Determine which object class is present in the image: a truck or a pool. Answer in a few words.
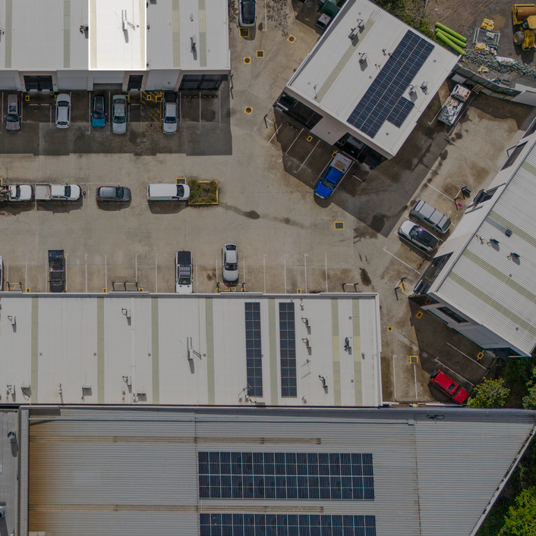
truck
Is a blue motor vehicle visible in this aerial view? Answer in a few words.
Yes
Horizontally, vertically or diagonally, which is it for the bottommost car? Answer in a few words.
diagonally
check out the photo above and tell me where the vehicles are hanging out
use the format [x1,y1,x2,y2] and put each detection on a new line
[160,91,180,135]
[89,94,108,130]
[436,82,472,128]
[36,183,82,202]
[47,248,66,292]
[95,184,133,203]
[315,152,353,198]
[395,221,440,253]
[53,92,72,132]
[146,183,190,203]
[222,243,241,285]
[407,199,451,234]
[515,7,536,55]
[110,95,129,134]
[2,183,32,202]
[173,250,193,292]
[237,0,255,28]
[428,369,471,404]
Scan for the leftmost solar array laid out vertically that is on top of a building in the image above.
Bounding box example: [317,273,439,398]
[245,302,263,397]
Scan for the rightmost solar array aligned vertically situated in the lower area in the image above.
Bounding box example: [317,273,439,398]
[280,302,298,398]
